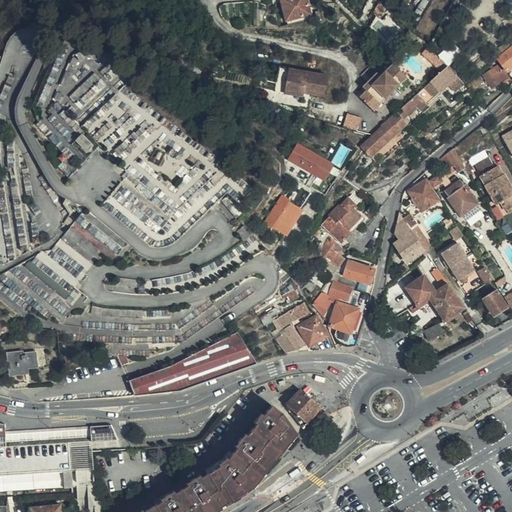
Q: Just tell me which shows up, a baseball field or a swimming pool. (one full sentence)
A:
The one in the frame is a swimming pool.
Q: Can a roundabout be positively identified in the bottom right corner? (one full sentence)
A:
Yes, a roundabout shows up in the bottom right corner.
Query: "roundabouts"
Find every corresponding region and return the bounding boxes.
[349,366,425,442]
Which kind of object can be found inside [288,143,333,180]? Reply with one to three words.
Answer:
house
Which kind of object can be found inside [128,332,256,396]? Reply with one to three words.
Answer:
building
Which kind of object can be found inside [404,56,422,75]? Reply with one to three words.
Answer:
swimming pool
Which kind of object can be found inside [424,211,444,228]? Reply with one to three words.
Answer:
swimming pool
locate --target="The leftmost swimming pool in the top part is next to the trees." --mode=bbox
[332,146,352,169]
